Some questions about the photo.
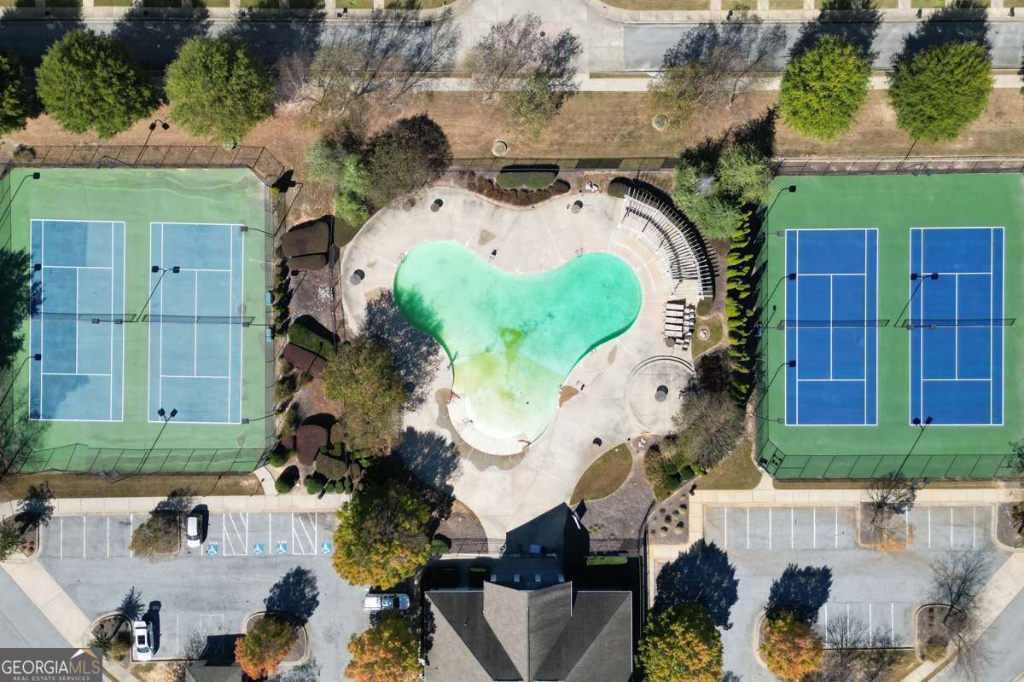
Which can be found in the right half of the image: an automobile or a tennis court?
tennis court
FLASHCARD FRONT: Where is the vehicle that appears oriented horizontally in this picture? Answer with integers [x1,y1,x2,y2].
[364,591,411,613]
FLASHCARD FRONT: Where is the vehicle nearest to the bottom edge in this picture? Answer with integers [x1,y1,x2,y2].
[134,619,156,661]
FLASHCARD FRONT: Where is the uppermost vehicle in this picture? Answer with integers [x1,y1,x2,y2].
[184,511,205,548]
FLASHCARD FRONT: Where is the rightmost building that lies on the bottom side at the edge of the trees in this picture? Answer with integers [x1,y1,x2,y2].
[426,574,632,682]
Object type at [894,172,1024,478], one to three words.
tennis court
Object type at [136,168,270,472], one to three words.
tennis court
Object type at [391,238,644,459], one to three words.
swimming pool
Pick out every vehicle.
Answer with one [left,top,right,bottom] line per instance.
[364,591,411,613]
[134,619,156,661]
[184,511,205,548]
